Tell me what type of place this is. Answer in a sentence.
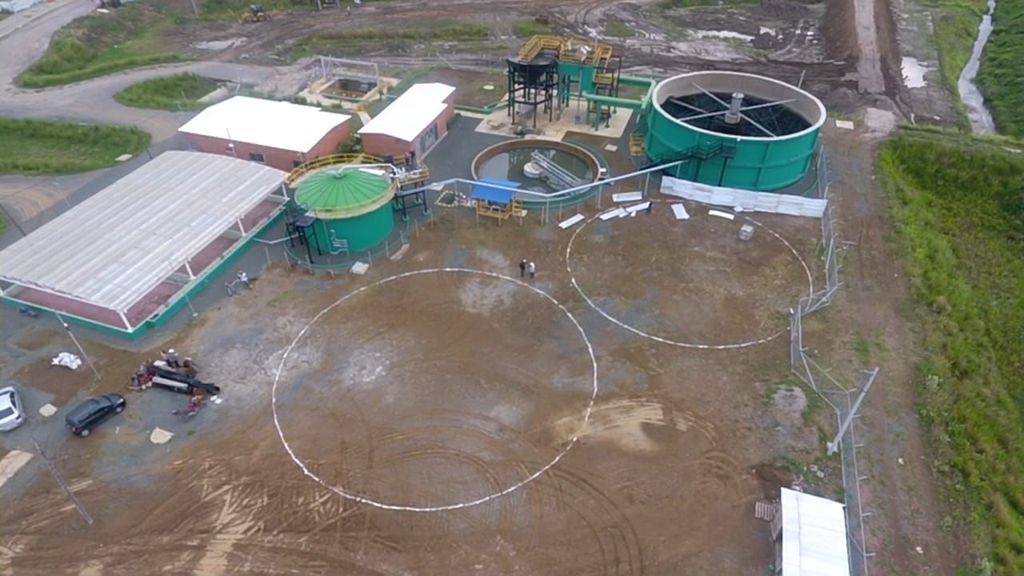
The area seen from above is an industrial area.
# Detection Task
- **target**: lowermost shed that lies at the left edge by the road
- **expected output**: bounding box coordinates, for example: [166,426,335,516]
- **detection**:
[0,153,287,340]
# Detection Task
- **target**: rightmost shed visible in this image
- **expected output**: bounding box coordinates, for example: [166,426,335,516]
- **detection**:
[769,488,849,576]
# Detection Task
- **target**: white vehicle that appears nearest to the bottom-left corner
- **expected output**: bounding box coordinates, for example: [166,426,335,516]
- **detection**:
[0,384,23,429]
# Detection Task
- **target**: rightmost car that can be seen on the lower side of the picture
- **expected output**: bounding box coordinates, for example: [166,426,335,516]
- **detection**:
[59,389,125,435]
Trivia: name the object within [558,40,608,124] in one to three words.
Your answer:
storage tank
